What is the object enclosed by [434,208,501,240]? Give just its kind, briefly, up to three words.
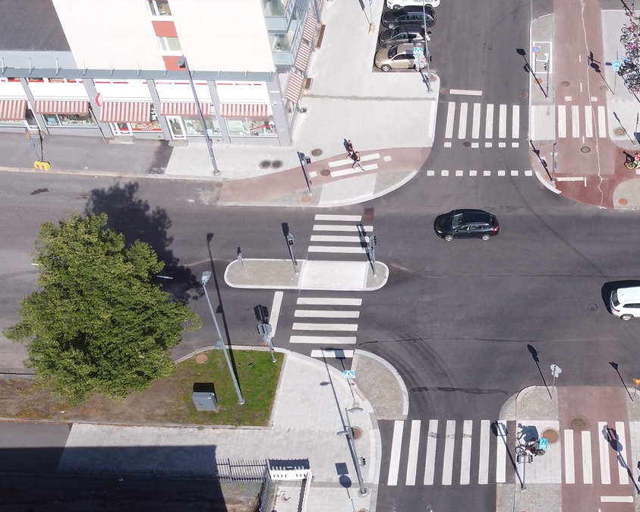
car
